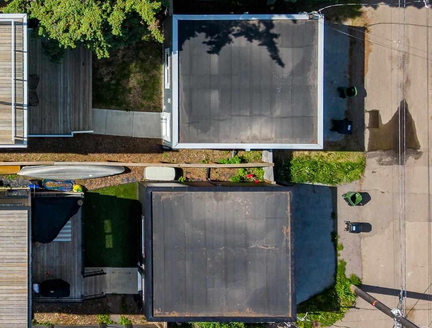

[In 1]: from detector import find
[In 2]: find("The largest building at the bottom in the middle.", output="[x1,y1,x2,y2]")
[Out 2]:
[136,182,297,321]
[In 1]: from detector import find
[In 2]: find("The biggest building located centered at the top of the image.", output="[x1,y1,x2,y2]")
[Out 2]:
[162,15,328,149]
